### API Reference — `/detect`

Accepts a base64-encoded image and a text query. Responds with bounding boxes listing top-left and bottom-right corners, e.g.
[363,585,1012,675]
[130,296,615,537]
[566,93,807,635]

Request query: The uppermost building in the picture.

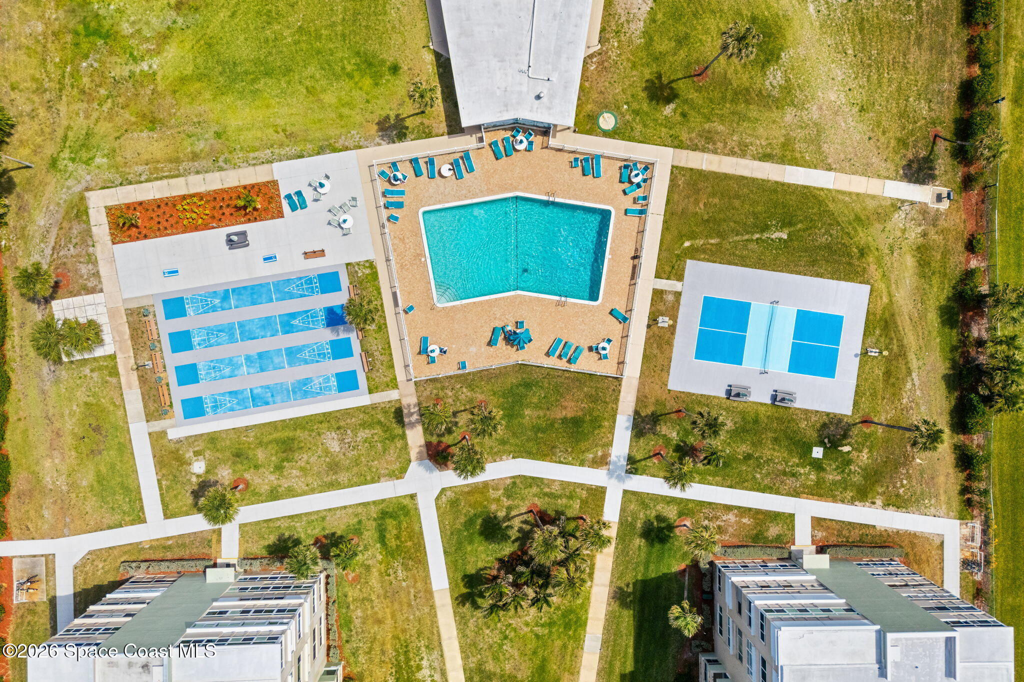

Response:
[440,0,593,135]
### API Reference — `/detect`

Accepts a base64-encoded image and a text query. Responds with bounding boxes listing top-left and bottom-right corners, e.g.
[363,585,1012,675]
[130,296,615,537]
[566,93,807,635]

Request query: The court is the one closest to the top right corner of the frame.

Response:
[668,260,871,415]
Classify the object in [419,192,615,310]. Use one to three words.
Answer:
swimming pool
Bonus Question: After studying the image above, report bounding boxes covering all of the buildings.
[440,0,593,135]
[25,571,345,682]
[693,559,1016,682]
